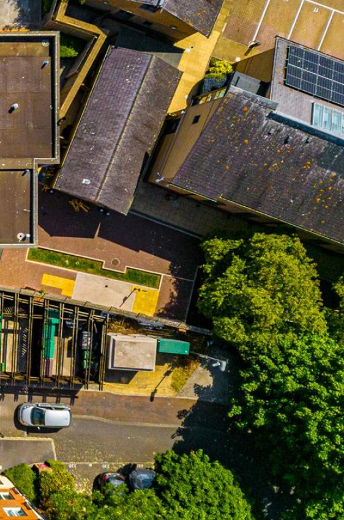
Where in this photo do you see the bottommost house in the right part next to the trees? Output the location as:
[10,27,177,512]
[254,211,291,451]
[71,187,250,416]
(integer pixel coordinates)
[146,34,344,255]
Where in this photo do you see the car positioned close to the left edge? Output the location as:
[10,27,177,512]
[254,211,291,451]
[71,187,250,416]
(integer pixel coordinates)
[15,402,73,432]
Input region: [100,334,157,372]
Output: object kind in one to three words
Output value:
shed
